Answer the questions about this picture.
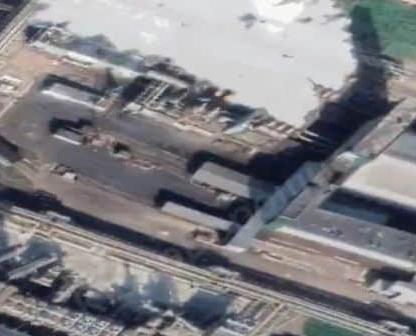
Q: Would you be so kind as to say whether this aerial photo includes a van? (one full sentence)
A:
No, I find no van anywhere in the image.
